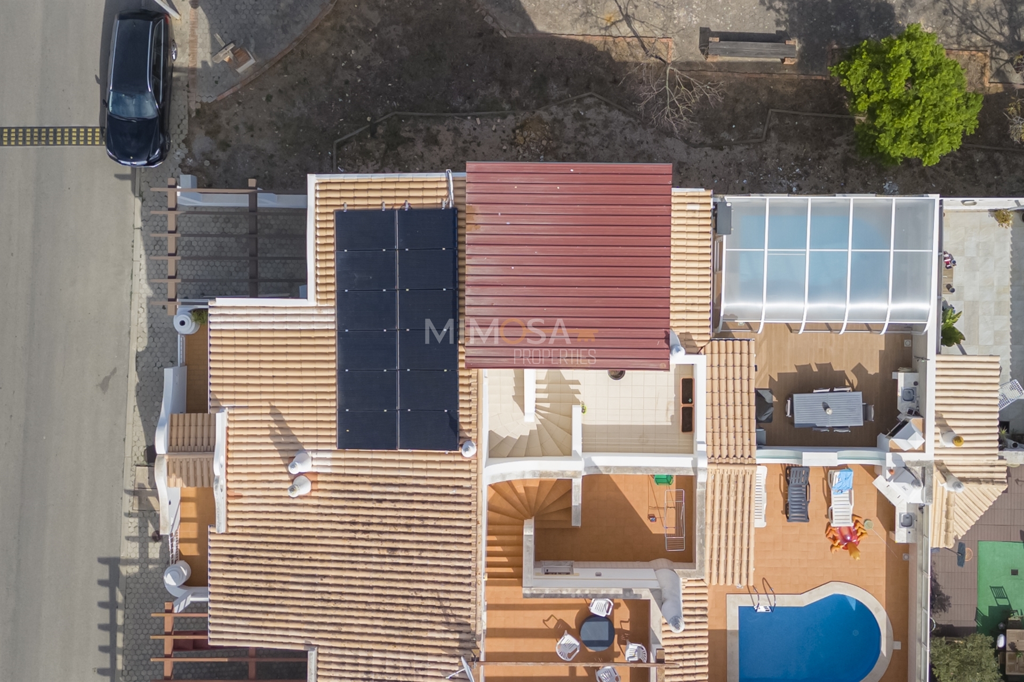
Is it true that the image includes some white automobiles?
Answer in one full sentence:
No, I can't see a single white automobile in this photo.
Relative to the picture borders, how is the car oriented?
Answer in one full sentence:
From this overhead view, the car appears to run up and down.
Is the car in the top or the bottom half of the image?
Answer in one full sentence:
The top half of the photo is where the car is.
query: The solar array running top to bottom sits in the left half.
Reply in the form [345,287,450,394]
[336,203,458,453]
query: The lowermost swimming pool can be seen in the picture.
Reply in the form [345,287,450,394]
[727,582,893,682]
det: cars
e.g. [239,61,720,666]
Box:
[96,9,174,168]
